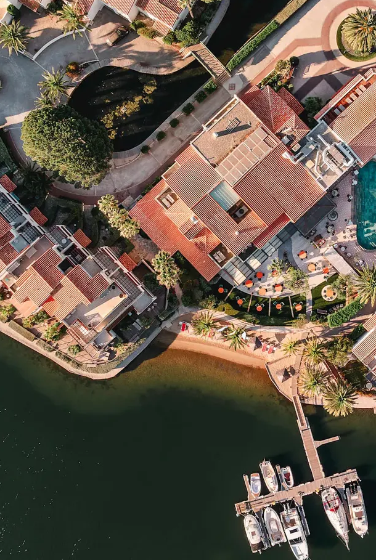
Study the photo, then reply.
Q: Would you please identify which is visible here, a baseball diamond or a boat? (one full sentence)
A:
The image shows a boat.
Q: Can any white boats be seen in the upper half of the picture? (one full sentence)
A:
No, I can find no white boat in the upper half of the picture.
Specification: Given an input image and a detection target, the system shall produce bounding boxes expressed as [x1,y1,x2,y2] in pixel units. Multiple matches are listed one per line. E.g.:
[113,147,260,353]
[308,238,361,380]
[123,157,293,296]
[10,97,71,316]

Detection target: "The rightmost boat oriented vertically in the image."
[346,482,367,534]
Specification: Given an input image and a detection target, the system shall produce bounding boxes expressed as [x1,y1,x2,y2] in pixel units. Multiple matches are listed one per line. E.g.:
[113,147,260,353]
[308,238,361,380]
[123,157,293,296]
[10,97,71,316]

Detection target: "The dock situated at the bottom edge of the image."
[233,395,361,548]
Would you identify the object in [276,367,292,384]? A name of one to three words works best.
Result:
umbrella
